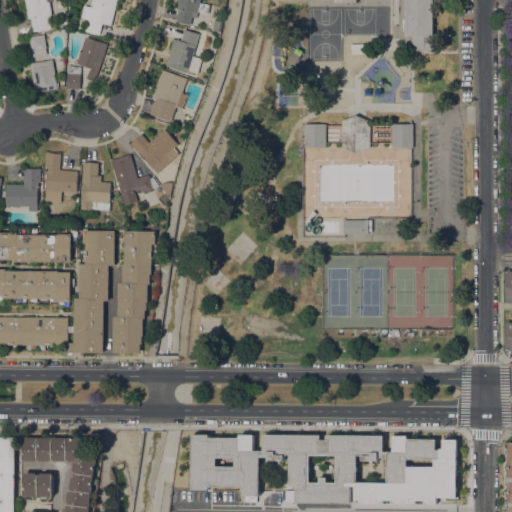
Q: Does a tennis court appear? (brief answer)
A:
Yes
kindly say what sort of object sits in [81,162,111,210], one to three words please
house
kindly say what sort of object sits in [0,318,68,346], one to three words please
building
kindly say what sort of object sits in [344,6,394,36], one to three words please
basketball court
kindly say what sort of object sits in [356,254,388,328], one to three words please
tennis court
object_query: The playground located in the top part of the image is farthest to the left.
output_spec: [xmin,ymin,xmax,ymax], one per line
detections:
[272,44,306,74]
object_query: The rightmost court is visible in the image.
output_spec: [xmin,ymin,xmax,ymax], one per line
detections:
[420,254,454,328]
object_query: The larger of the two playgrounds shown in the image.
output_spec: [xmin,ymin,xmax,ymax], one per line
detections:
[358,58,410,103]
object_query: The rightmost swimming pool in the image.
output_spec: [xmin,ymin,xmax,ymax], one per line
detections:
[186,84,202,110]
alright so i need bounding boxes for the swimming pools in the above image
[186,84,202,110]
[71,34,83,58]
[10,212,34,224]
[50,35,64,58]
